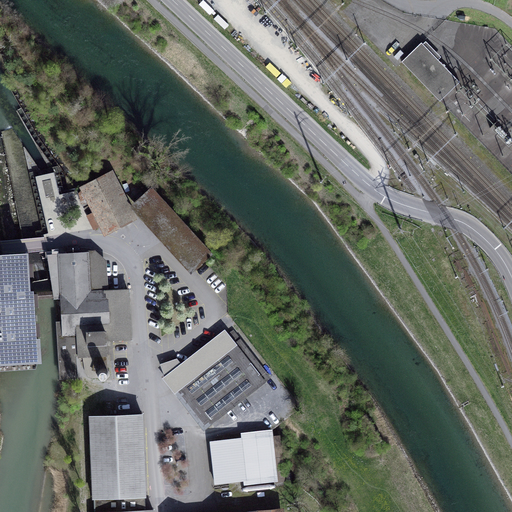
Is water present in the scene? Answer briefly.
Yes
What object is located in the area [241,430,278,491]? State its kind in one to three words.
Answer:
building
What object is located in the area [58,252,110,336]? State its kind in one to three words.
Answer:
building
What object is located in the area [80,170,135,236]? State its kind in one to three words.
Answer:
barn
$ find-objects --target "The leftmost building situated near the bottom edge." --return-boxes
[89,414,148,500]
